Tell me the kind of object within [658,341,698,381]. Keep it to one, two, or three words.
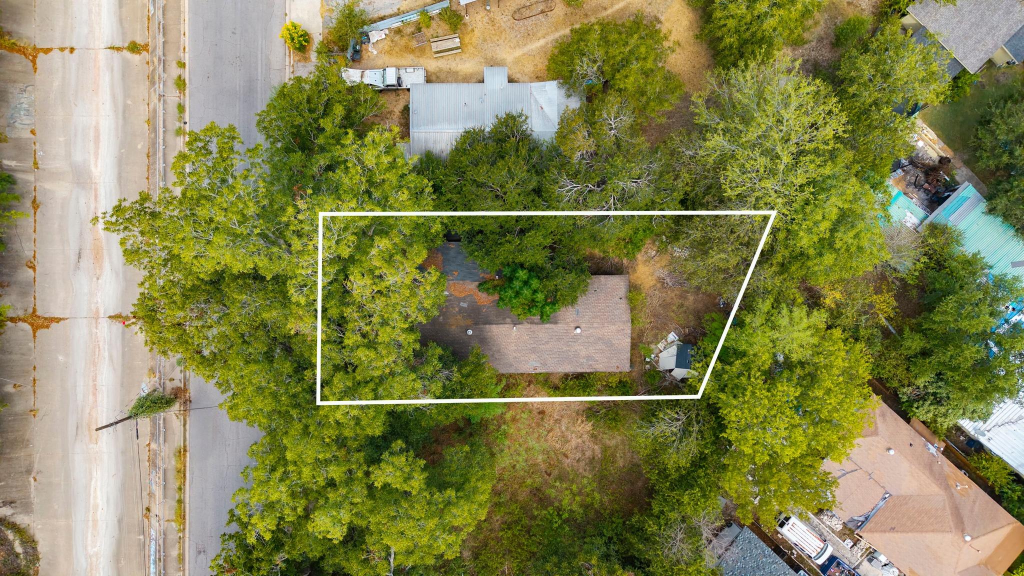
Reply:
shed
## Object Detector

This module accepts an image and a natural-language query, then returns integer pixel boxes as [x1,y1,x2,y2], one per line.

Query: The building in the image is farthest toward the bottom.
[703,523,794,576]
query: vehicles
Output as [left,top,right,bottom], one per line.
[774,511,833,567]
[821,546,867,576]
[342,64,429,90]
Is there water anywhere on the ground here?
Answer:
No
